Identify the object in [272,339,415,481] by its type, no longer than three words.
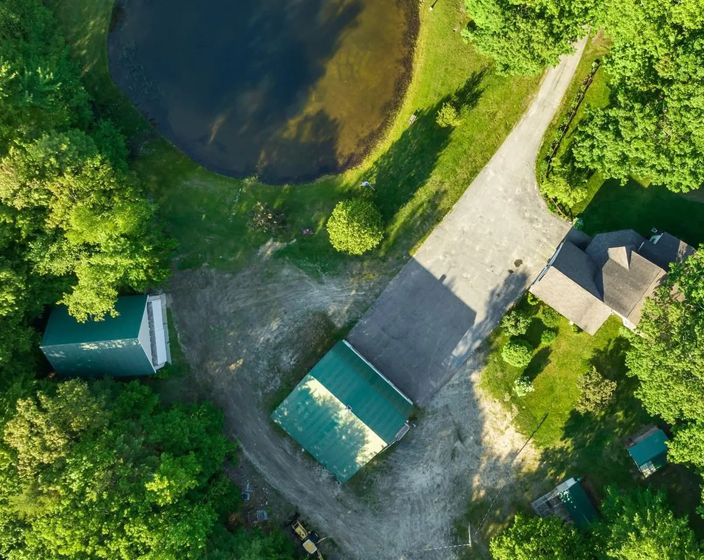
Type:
building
